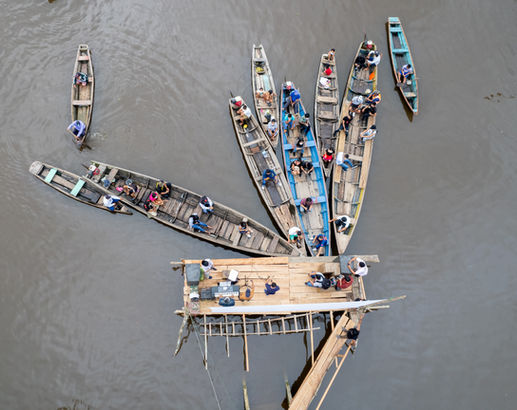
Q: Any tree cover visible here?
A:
No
